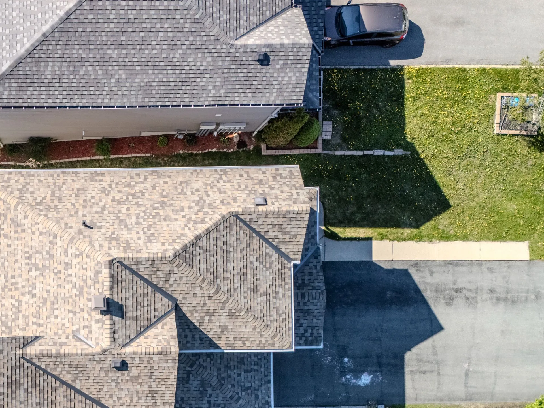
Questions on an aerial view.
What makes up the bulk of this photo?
buildings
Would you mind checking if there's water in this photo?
No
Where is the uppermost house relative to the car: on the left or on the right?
left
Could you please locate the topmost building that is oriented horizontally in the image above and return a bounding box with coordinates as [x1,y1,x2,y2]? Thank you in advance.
[0,0,325,144]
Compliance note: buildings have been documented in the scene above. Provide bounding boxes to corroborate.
[0,163,326,355]
[0,0,325,144]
